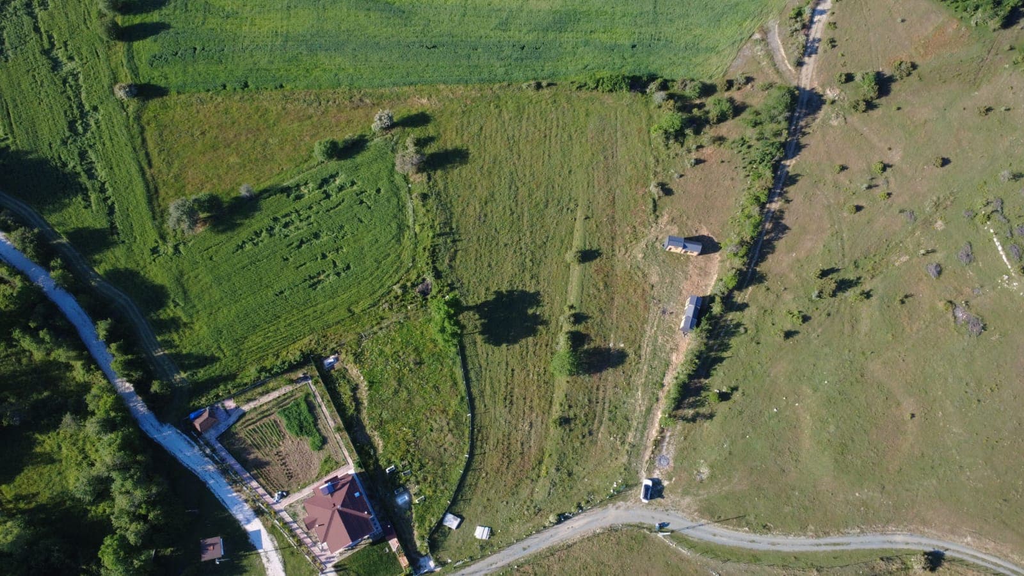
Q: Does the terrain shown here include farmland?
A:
Yes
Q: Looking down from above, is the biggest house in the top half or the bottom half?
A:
bottom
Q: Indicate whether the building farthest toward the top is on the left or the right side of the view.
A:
right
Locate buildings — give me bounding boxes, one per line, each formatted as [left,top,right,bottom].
[681,294,703,336]
[194,409,222,434]
[302,474,386,555]
[201,536,228,561]
[661,232,704,255]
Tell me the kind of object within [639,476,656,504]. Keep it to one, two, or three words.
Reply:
car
